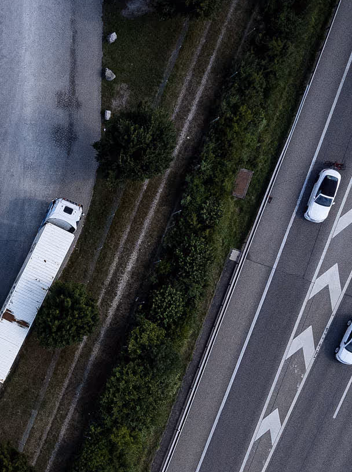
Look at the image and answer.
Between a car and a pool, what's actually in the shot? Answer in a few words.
car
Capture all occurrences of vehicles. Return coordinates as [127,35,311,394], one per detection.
[301,165,344,226]
[0,197,85,383]
[334,317,352,369]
